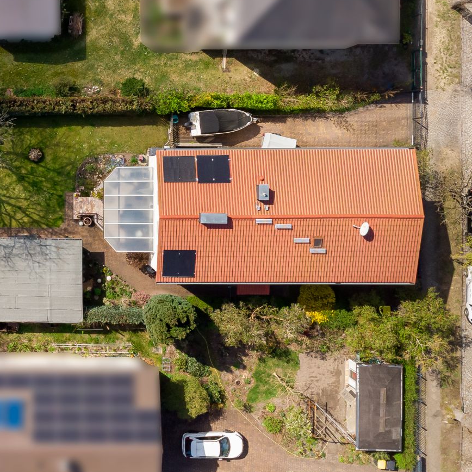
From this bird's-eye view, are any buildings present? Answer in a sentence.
Yes, a building is visible in the scene.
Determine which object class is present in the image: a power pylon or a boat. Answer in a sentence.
I can see a boat in this picture.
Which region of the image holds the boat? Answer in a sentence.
You can find the boat in the top area of the picture.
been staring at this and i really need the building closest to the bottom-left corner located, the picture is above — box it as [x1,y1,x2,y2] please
[0,349,162,472]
